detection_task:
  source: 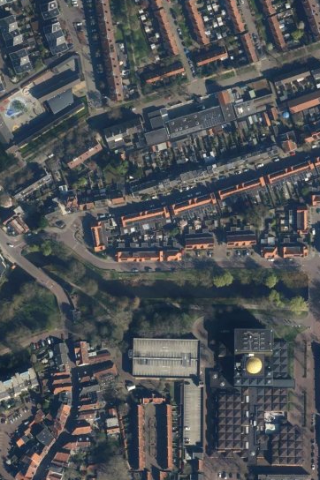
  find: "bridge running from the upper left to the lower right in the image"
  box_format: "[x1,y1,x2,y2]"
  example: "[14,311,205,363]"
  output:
[12,247,51,286]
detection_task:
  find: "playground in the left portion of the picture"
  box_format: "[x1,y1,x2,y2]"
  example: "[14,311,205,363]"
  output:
[0,87,34,116]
